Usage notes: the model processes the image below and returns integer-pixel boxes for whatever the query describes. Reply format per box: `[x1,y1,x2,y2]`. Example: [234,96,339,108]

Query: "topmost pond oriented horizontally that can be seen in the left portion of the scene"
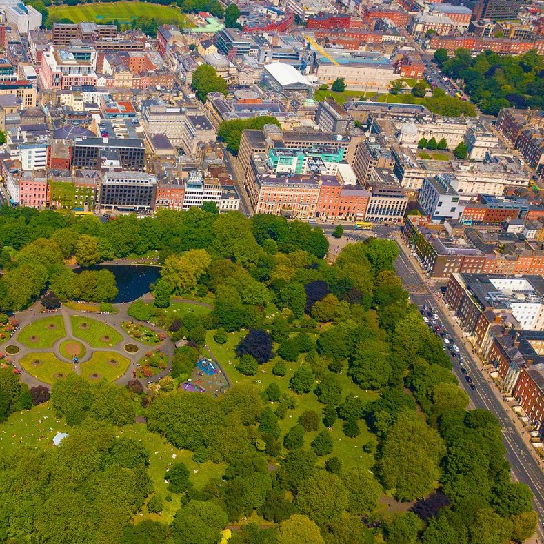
[69,265,167,304]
